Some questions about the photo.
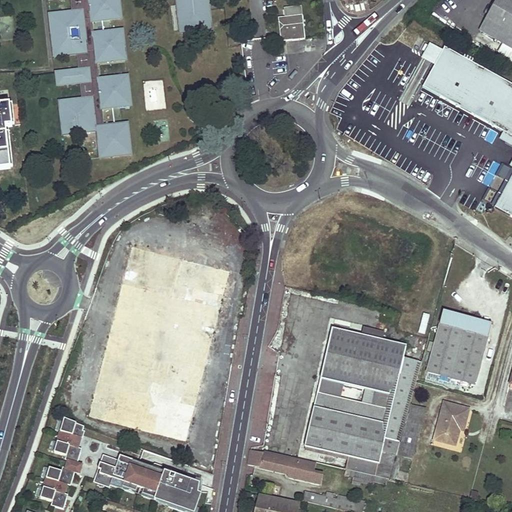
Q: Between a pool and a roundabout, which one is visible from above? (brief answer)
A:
roundabout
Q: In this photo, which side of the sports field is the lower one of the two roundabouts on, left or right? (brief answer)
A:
on the left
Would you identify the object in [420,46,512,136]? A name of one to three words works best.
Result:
building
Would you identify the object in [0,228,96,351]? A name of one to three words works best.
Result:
roundabout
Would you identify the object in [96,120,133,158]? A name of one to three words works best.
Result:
house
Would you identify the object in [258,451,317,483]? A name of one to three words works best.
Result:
barn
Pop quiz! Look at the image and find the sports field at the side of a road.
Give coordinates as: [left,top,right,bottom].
[88,246,230,441]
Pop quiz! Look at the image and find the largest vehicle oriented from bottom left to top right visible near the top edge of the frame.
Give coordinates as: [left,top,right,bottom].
[352,11,381,34]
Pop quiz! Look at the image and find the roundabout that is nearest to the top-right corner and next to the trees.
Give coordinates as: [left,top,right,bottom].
[191,82,360,244]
